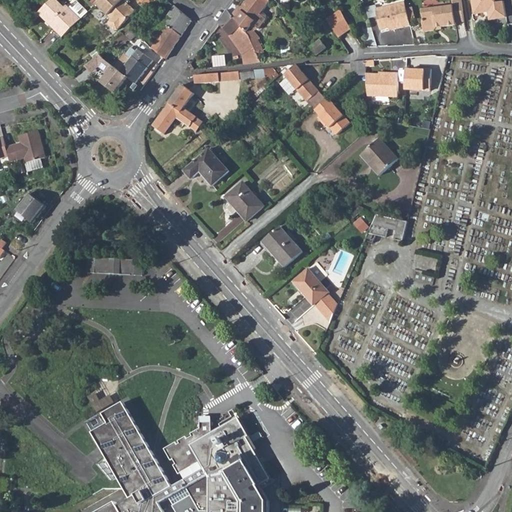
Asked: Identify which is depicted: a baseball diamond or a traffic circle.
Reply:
traffic circle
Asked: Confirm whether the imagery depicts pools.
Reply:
Yes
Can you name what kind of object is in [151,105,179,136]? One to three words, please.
house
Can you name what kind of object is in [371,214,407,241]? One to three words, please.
building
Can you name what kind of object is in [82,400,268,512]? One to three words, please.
building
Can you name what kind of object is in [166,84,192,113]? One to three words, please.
house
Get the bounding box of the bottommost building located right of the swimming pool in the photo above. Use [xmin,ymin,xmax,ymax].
[414,254,438,270]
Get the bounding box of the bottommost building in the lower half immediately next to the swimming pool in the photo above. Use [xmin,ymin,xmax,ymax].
[316,294,338,321]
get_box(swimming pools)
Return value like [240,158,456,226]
[327,250,357,288]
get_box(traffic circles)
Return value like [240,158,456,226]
[76,120,144,188]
